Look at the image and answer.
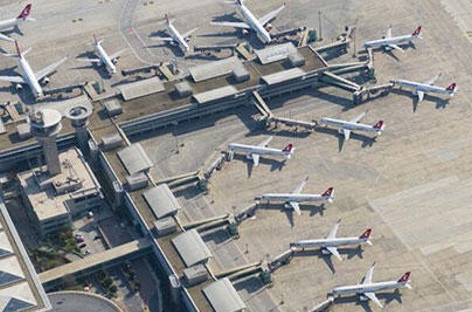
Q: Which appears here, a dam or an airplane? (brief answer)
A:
airplane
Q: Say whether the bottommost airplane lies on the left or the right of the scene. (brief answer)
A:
right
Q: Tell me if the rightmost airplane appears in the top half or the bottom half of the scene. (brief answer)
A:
top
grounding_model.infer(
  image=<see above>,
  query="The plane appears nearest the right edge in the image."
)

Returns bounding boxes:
[395,72,458,102]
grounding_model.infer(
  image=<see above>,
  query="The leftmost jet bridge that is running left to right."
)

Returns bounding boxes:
[39,82,96,101]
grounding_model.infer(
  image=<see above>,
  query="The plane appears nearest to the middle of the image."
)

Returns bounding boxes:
[228,133,294,167]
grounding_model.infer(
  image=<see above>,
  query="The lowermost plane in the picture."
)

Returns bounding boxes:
[332,262,411,309]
